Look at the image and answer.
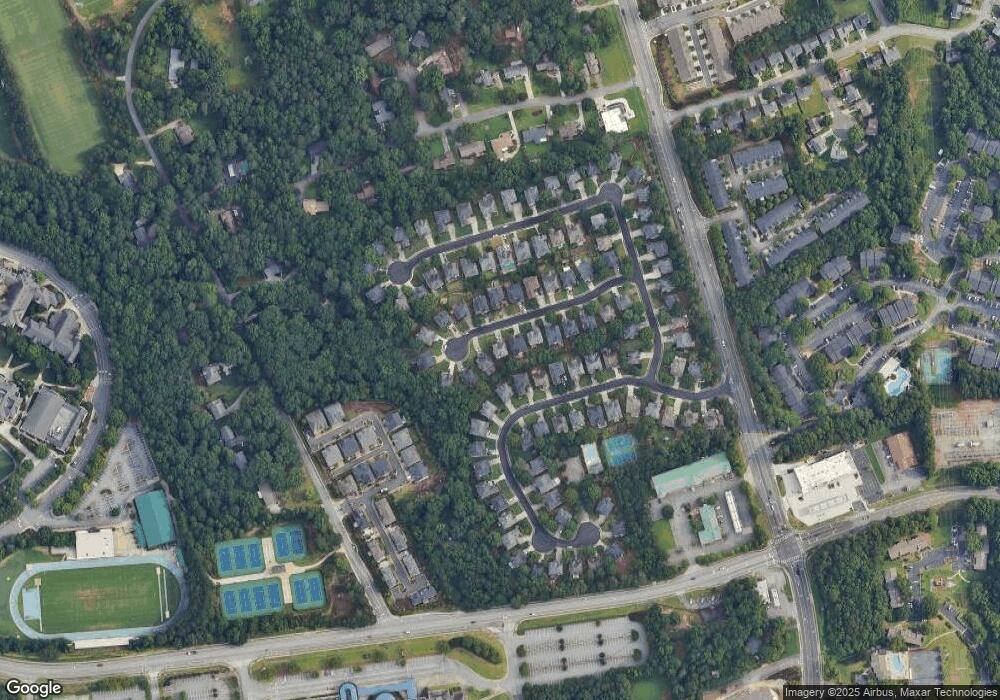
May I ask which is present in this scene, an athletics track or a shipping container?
athletics track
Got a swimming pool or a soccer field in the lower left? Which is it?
soccer field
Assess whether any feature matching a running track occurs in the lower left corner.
Yes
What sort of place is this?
residential area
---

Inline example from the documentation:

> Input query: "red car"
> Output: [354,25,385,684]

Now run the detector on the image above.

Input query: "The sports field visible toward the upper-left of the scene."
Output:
[0,0,104,169]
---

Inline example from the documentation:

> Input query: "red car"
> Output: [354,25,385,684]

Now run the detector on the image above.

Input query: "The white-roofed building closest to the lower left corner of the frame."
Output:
[75,528,114,559]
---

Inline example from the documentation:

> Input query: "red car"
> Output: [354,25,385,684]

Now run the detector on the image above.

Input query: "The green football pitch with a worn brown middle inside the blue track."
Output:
[21,564,179,632]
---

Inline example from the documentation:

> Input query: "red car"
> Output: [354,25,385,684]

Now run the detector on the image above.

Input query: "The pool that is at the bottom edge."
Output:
[880,650,910,679]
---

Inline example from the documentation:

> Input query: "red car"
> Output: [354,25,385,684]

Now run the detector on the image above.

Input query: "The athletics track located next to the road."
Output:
[10,552,188,641]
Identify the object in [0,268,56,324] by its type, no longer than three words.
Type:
building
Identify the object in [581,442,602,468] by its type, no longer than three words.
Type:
swimming pool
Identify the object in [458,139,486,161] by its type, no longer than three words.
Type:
house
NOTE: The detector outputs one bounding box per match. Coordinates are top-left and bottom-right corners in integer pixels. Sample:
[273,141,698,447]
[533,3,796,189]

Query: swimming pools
[581,442,602,468]
[885,362,911,397]
[880,650,910,679]
[502,260,517,272]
